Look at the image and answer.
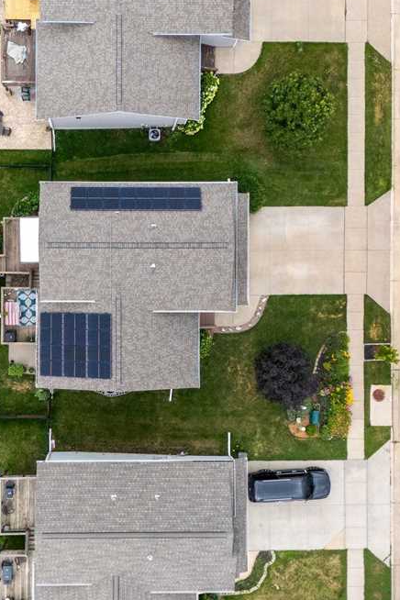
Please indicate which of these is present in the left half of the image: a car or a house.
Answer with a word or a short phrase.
house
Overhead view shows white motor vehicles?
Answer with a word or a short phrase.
No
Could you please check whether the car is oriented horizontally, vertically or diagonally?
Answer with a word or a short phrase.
horizontally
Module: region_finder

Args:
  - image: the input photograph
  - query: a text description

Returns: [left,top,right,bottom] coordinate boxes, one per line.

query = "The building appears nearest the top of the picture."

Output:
[36,0,248,151]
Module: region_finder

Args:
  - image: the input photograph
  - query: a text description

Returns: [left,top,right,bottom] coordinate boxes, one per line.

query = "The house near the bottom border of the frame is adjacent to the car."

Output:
[33,429,245,600]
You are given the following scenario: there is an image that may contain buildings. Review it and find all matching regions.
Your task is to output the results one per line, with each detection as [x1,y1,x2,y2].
[36,0,248,151]
[37,177,249,402]
[33,429,245,600]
